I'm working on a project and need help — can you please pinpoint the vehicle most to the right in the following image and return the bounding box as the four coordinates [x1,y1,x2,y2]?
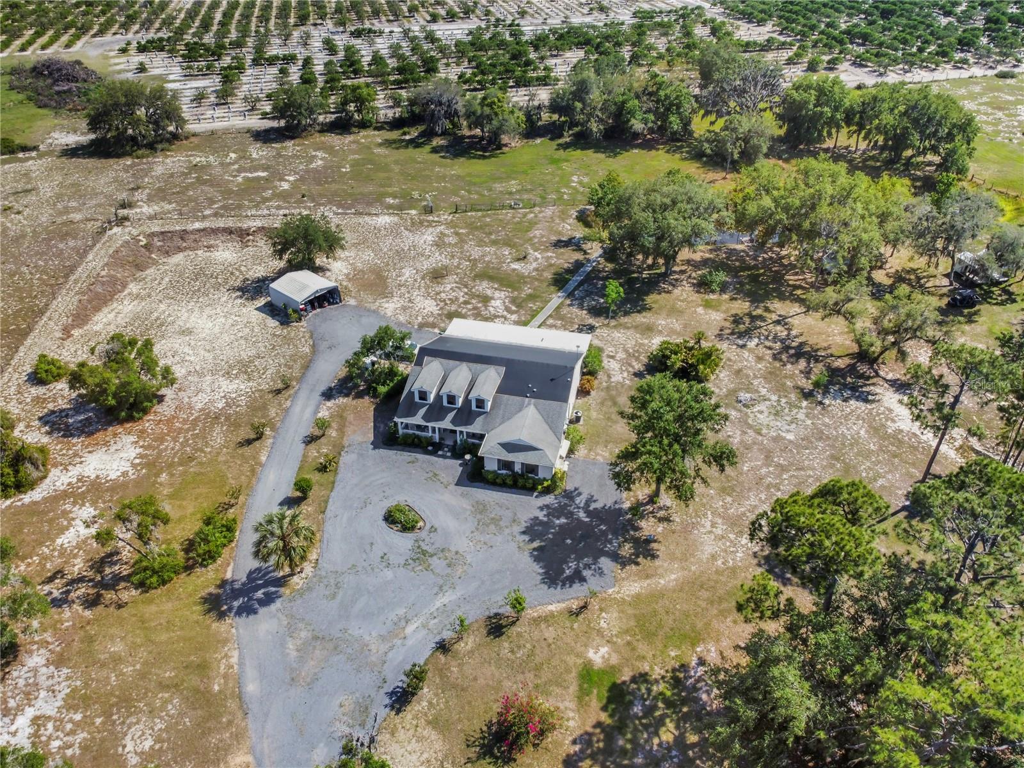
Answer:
[952,288,985,307]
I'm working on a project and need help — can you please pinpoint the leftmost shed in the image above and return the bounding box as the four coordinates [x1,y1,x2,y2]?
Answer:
[266,267,343,320]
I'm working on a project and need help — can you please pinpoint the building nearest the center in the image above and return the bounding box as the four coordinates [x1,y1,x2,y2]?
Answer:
[392,319,592,481]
